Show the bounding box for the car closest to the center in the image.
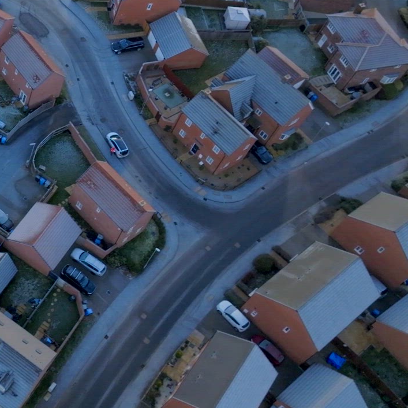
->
[253,143,276,167]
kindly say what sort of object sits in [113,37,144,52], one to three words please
car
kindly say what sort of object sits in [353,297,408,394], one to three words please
house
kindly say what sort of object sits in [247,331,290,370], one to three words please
car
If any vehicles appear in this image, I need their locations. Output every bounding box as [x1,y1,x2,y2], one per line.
[215,301,252,333]
[0,208,15,231]
[253,143,276,167]
[70,248,109,277]
[60,263,98,295]
[105,131,131,159]
[247,331,290,370]
[113,37,144,52]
